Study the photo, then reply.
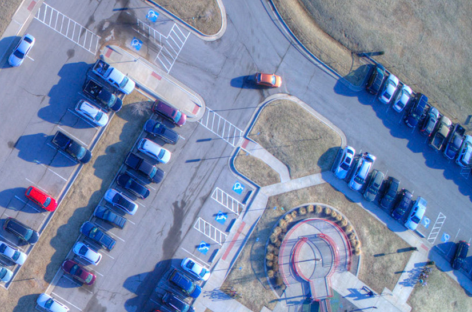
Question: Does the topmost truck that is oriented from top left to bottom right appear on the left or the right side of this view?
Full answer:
The topmost truck that is oriented from top left to bottom right is on the left side of the image.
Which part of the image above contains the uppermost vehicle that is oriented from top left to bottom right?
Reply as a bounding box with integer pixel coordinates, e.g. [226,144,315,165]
[91,59,135,94]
